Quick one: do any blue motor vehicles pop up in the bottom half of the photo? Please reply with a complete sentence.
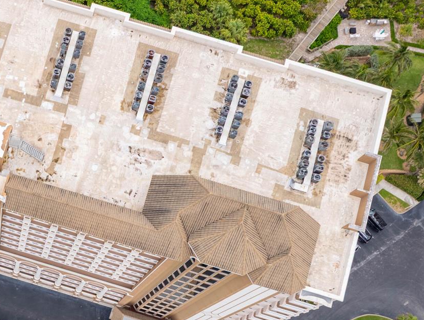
No, looking in the bottom half of the photo, there is no blue motor vehicle.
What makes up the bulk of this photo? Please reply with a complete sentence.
What you mostly see from above here is buildings.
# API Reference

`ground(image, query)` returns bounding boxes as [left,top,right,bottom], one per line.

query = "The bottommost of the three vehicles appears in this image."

[356,246,369,263]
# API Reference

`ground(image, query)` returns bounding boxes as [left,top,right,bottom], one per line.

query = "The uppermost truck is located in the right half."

[369,209,396,238]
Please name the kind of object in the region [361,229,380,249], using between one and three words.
car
